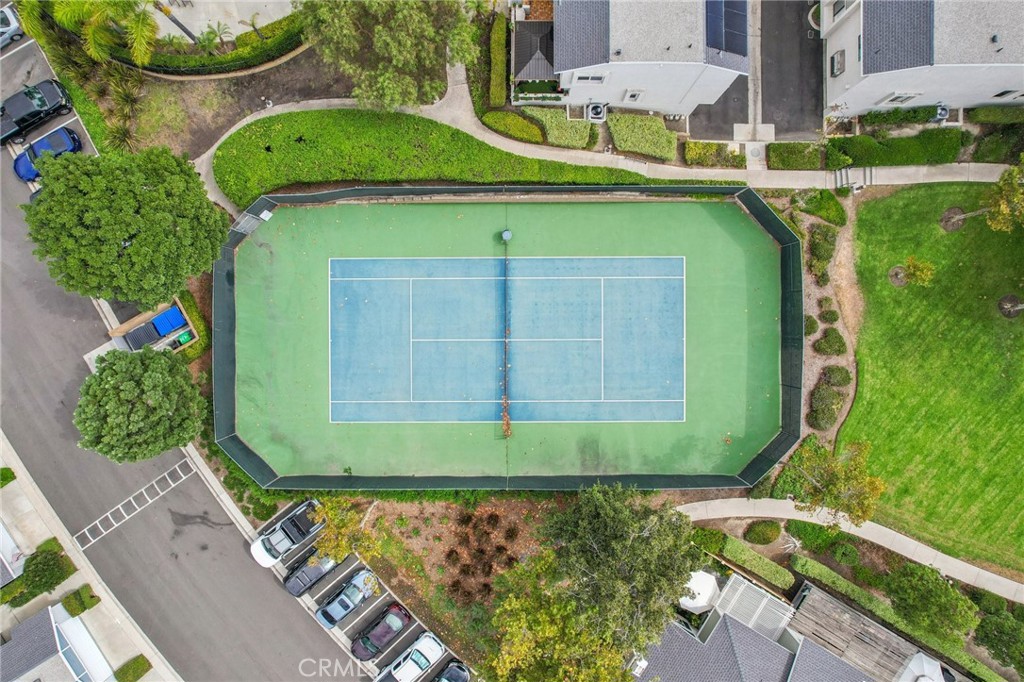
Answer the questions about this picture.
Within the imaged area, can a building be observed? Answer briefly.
Yes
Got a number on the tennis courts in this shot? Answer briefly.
1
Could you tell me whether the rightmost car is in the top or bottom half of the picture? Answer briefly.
bottom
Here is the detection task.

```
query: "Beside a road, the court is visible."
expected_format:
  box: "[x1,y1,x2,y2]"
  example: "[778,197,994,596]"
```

[235,197,781,476]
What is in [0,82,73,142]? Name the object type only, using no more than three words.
truck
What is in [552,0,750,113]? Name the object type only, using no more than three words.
house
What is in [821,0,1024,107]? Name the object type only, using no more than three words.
house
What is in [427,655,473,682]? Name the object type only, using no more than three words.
car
